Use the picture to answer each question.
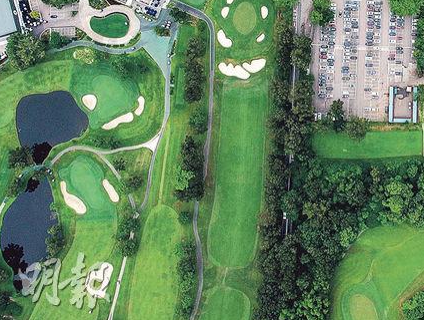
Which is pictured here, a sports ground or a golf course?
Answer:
golf course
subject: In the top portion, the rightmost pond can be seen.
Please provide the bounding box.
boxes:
[16,91,87,162]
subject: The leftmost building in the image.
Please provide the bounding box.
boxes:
[0,0,31,53]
